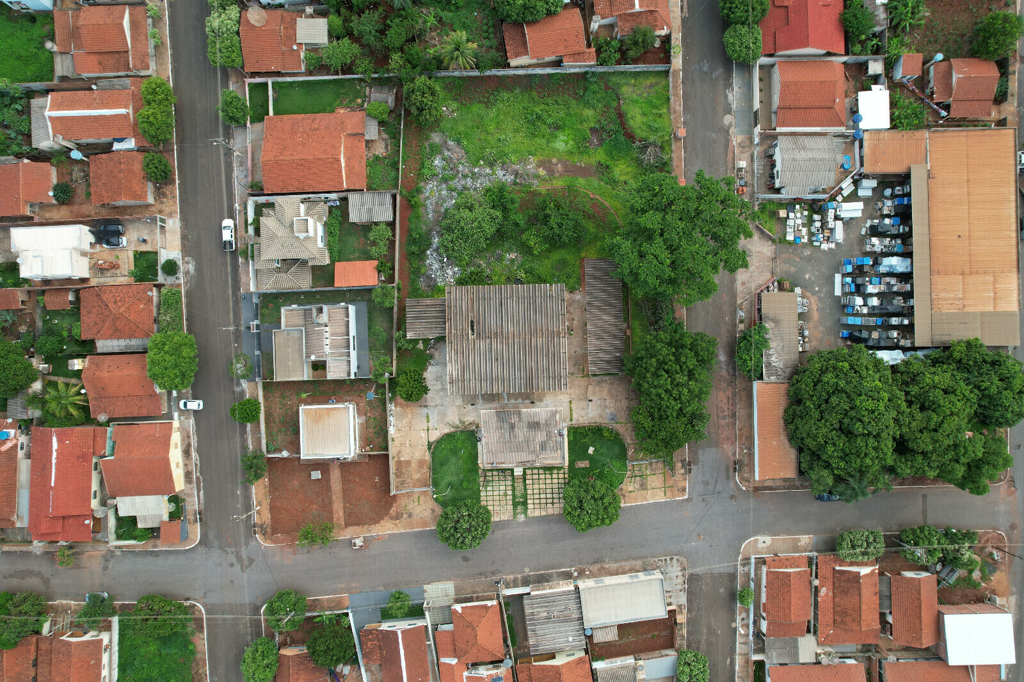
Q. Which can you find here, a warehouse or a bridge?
warehouse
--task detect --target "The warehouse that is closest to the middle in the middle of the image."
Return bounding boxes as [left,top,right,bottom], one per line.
[445,283,569,394]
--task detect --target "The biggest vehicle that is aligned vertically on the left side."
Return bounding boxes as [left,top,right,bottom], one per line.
[222,219,236,250]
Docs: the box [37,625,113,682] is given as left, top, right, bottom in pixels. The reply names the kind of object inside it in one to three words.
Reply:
house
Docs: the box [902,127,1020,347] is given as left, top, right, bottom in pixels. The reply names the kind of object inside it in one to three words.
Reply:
warehouse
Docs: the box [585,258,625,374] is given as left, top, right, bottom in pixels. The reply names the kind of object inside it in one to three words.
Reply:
shed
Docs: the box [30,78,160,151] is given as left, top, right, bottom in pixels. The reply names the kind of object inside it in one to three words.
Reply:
house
